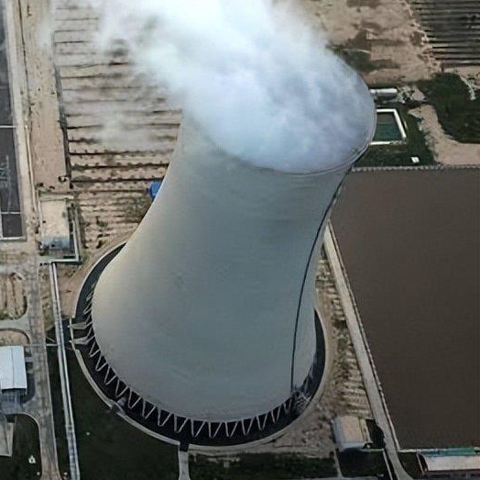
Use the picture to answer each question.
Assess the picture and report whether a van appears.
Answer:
No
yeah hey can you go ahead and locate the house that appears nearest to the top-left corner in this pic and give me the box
[40,198,70,238]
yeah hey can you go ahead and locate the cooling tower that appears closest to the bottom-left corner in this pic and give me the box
[70,33,379,450]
